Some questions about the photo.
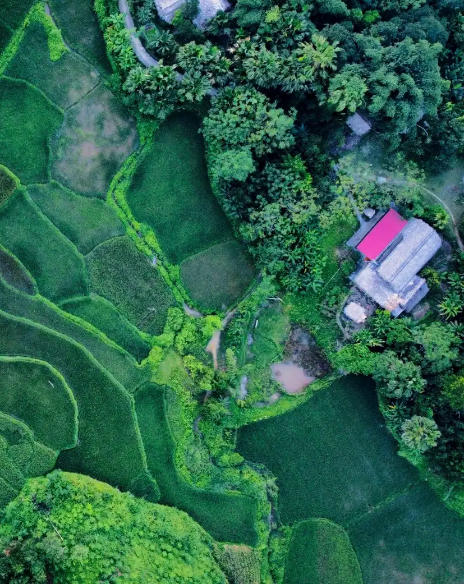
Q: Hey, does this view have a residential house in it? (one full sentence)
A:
Yes, the image includes a residential house.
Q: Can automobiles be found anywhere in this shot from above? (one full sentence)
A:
No, there's no automobile here.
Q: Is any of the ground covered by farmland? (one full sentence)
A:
Yes, some farmland is visible.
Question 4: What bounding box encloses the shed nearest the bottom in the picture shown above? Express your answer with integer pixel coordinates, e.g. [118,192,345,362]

[342,300,367,325]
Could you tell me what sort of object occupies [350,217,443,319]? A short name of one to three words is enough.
house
